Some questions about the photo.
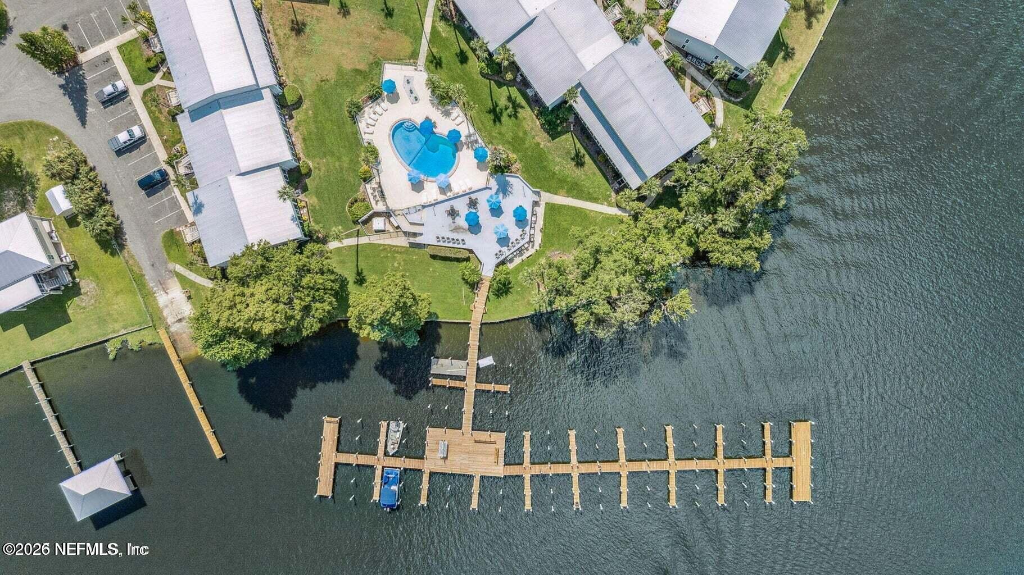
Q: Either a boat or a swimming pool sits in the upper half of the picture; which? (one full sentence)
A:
The one visible in the upper half of the picture is a swimming pool.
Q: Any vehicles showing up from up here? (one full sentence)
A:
Yes, there's a vehicle down there.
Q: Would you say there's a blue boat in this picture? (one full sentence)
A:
Yes, looking at the shot, I can spot a blue boat.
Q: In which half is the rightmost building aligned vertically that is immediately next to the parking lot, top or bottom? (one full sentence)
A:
The top half of the photo is where the rightmost building aligned vertically that is immediately next to the parking lot is.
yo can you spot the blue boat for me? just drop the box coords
[379,467,399,511]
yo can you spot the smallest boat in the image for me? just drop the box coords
[388,419,404,454]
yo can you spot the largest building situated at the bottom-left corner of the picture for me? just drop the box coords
[59,448,150,522]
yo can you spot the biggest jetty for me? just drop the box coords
[314,275,814,512]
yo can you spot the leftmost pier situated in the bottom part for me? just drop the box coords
[18,360,84,475]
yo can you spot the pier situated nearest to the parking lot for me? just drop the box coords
[155,329,228,459]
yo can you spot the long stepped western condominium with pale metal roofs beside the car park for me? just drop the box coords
[148,0,308,267]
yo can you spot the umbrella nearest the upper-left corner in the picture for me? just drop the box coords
[382,79,396,93]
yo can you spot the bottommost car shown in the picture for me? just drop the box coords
[136,170,167,189]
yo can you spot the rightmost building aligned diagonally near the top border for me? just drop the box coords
[449,0,711,191]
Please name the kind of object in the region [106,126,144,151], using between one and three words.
truck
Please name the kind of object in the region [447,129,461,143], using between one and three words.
umbrella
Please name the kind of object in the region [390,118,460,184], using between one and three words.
swimming pool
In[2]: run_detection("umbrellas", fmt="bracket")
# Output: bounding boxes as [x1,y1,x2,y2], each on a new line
[473,147,488,162]
[435,173,450,188]
[407,170,421,184]
[447,129,461,143]
[487,194,501,208]
[382,79,396,93]
[494,224,509,239]
[513,207,527,221]
[465,211,480,226]
[420,119,434,134]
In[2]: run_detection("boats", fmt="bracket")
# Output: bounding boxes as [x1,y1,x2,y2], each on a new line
[379,467,399,511]
[388,419,404,454]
